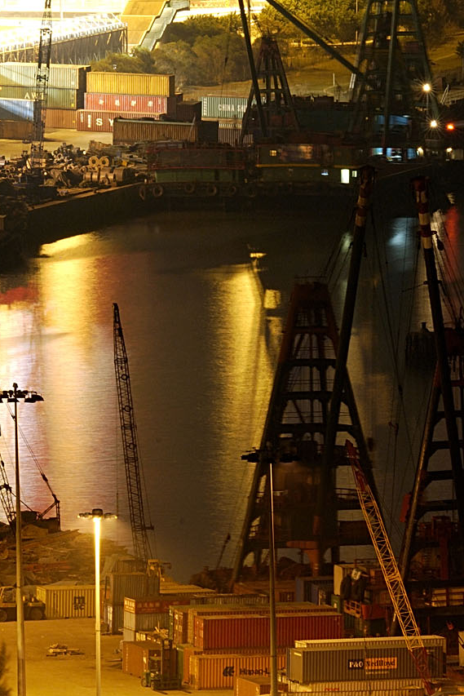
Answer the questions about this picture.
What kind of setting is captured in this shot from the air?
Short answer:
port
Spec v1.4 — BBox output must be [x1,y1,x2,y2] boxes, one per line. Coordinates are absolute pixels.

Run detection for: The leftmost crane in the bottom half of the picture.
[0,374,58,517]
